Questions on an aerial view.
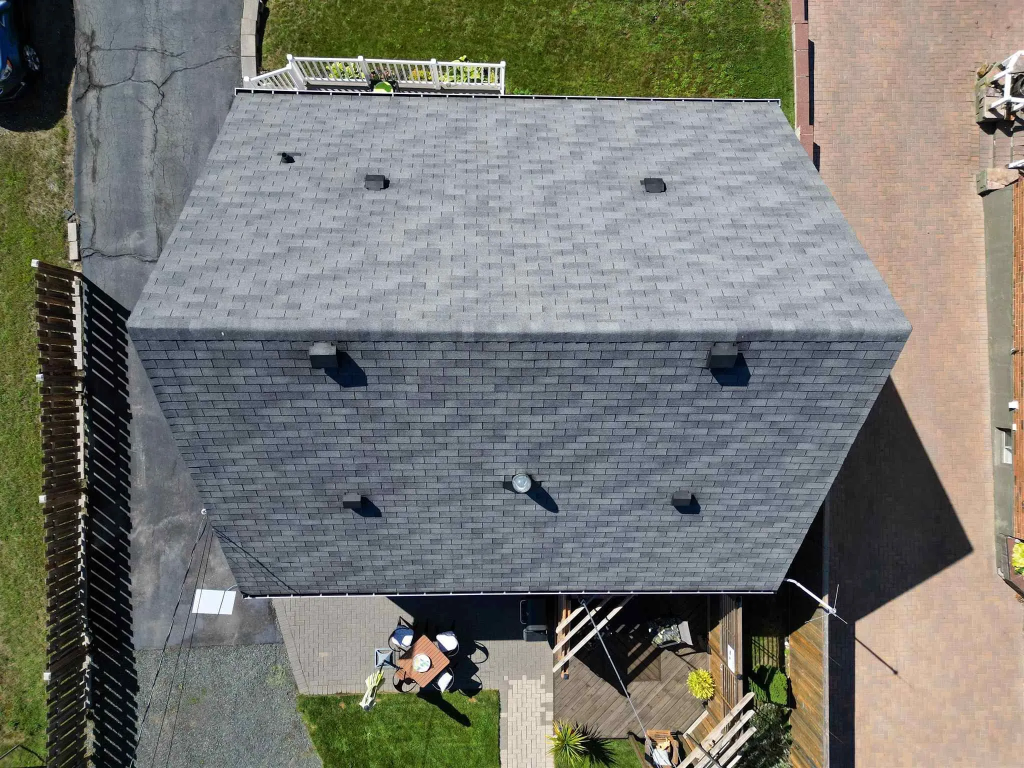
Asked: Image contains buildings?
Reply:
Yes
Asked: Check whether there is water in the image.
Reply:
No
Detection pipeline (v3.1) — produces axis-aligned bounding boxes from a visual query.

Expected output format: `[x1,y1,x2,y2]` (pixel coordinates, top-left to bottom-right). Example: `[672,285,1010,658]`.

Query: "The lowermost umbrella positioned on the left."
[361,650,393,709]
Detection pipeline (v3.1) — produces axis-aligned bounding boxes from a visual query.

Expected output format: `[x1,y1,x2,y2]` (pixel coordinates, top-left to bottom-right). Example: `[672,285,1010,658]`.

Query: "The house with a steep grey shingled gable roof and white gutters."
[125,88,913,600]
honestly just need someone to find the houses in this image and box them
[984,158,1024,544]
[125,88,913,600]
